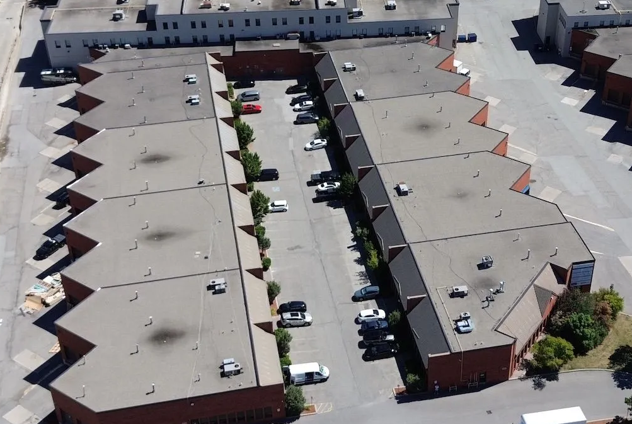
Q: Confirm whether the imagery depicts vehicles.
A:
Yes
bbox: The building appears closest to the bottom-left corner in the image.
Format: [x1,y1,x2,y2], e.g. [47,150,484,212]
[51,45,286,424]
